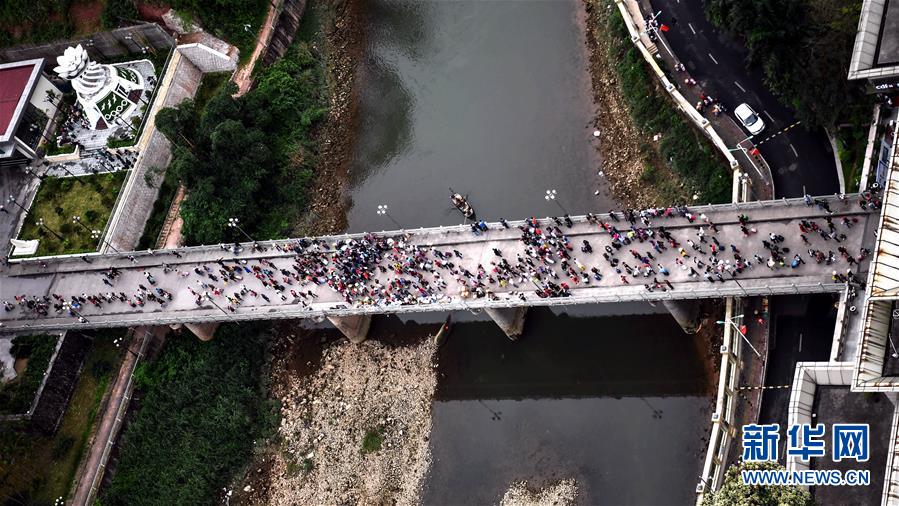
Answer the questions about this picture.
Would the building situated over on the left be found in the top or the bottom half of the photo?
top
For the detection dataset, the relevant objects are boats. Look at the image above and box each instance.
[444,188,481,220]
[430,311,454,349]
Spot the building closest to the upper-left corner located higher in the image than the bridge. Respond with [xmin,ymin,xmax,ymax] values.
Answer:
[0,59,61,158]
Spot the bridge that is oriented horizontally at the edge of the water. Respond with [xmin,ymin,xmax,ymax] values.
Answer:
[0,195,878,342]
